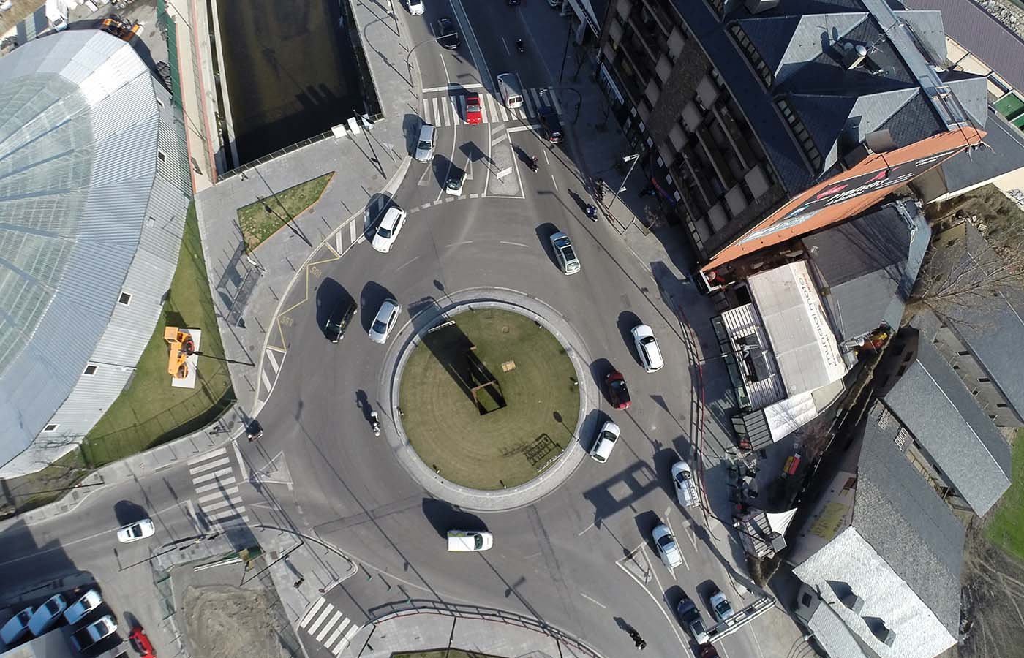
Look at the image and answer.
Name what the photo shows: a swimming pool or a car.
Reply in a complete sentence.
The image shows a car.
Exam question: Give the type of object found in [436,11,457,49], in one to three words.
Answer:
car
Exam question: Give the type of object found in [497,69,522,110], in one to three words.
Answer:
vehicle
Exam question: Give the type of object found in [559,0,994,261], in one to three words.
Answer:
building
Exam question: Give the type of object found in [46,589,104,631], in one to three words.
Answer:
van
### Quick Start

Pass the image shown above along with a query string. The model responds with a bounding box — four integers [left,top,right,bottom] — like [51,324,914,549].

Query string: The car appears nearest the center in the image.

[551,231,579,275]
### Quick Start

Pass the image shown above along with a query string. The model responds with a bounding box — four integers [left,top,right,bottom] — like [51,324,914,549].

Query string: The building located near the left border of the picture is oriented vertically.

[0,27,192,482]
